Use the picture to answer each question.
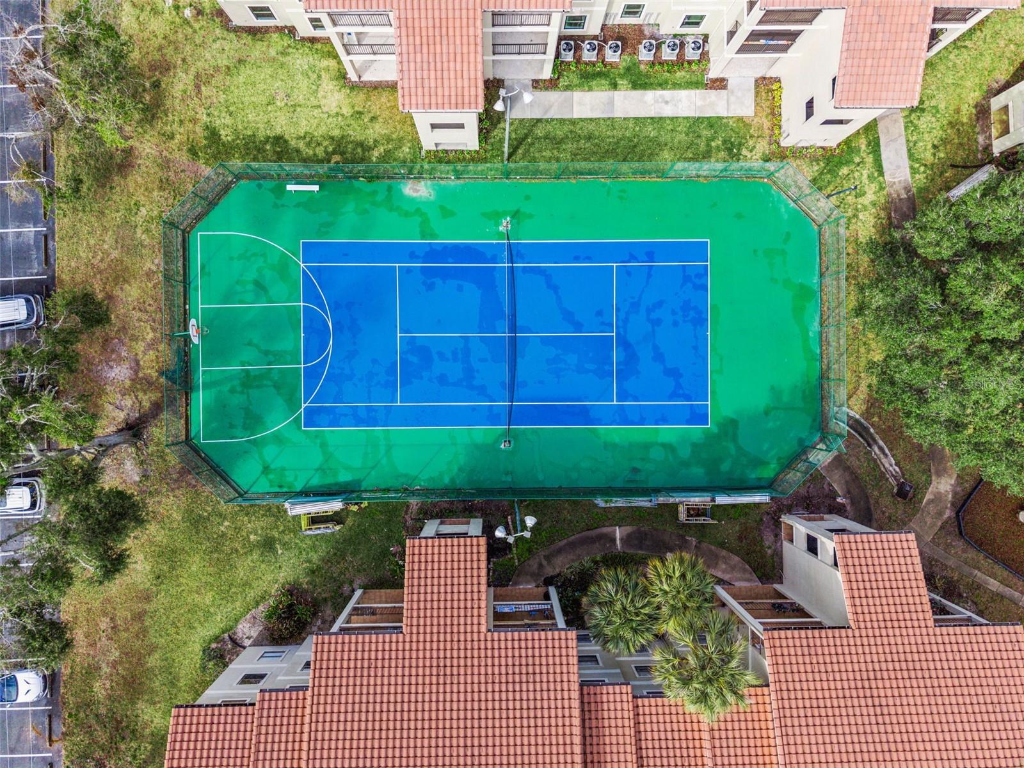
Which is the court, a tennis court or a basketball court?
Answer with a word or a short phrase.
tennis court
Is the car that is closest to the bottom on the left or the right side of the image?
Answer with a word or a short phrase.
left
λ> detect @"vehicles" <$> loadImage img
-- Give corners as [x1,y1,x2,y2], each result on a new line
[0,477,49,513]
[0,295,49,333]
[0,663,55,706]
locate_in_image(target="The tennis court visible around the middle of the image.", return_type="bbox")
[189,181,820,494]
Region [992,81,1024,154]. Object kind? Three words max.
building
